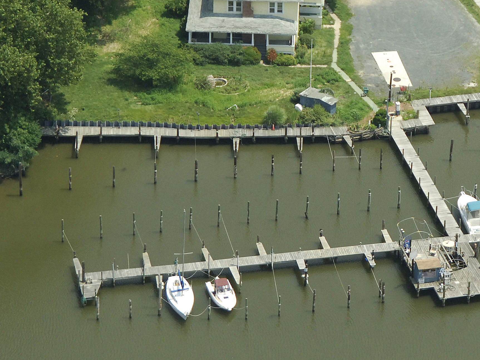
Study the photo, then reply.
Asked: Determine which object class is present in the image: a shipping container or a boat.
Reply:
boat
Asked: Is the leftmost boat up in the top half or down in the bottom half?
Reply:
bottom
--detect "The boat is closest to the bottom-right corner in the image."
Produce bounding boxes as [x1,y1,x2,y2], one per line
[456,190,480,235]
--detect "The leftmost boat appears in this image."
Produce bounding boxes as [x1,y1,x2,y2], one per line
[163,207,192,322]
